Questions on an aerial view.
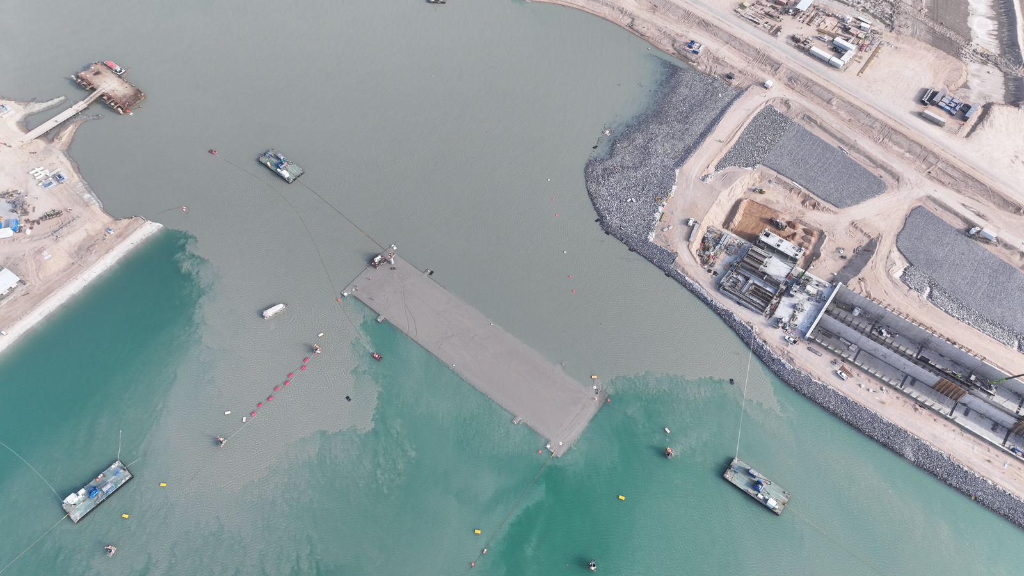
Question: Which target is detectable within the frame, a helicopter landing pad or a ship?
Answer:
ship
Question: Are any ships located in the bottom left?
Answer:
Yes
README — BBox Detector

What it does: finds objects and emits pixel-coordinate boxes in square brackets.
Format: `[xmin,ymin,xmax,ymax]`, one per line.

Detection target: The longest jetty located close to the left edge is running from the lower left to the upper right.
[18,86,107,143]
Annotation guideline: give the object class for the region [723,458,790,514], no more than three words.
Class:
ship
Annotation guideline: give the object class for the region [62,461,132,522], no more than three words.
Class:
ship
